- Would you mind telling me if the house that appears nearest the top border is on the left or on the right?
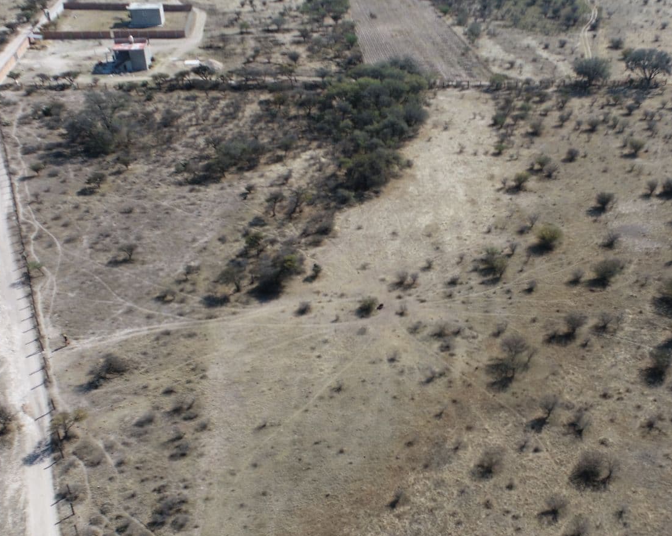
left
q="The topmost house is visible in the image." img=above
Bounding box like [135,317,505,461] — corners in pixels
[123,0,164,27]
